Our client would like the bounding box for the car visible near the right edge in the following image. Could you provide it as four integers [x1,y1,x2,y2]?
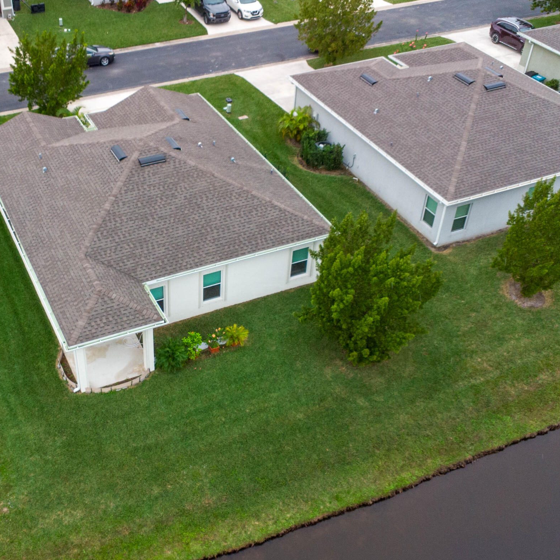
[490,17,537,51]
